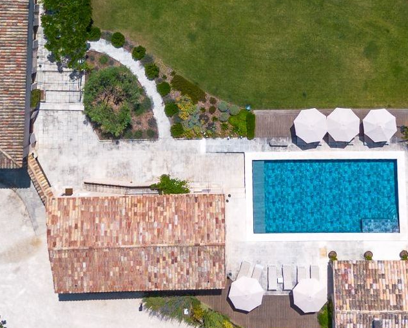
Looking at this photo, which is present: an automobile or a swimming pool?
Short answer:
swimming pool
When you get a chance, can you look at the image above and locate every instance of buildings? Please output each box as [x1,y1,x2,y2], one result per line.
[45,184,227,294]
[332,250,408,328]
[0,0,48,171]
